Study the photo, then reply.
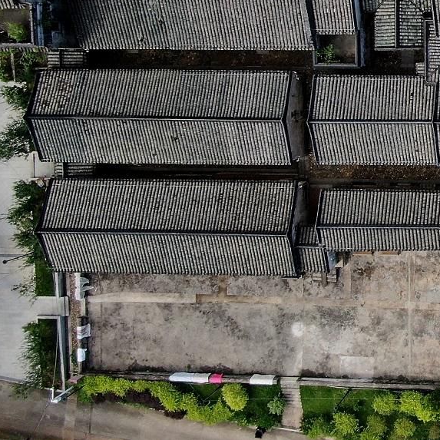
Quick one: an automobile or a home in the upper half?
home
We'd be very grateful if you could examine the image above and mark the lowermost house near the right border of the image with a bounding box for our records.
[315,188,440,252]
